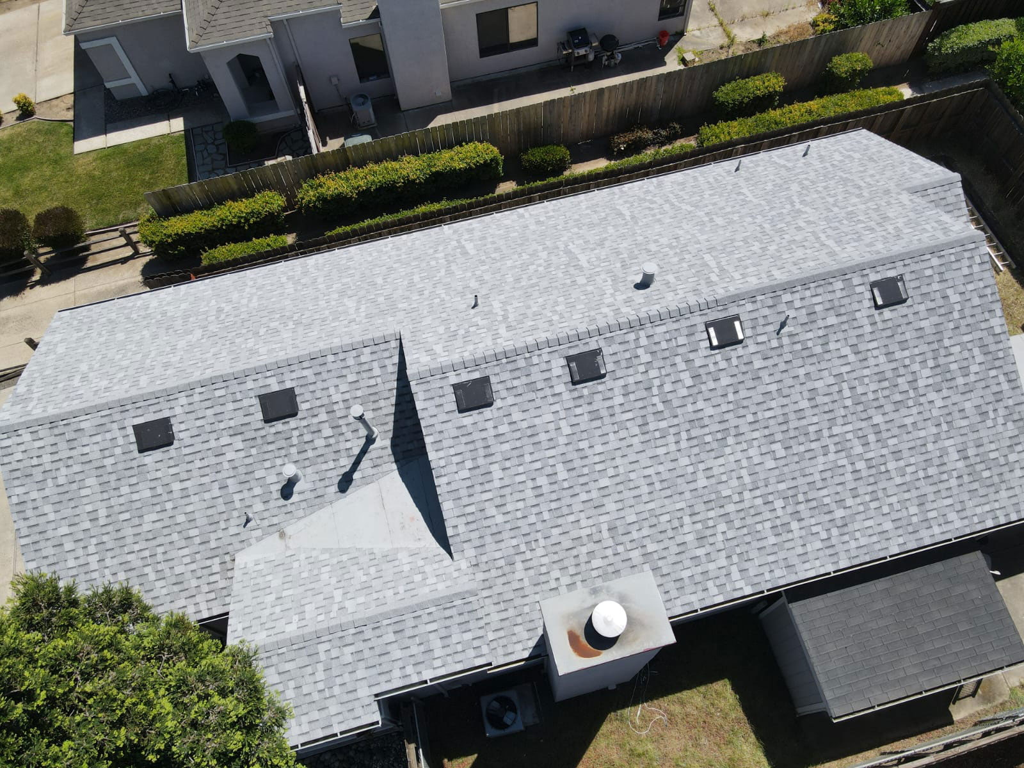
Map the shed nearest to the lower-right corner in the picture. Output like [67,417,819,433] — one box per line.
[766,550,1024,730]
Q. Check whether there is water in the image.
No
